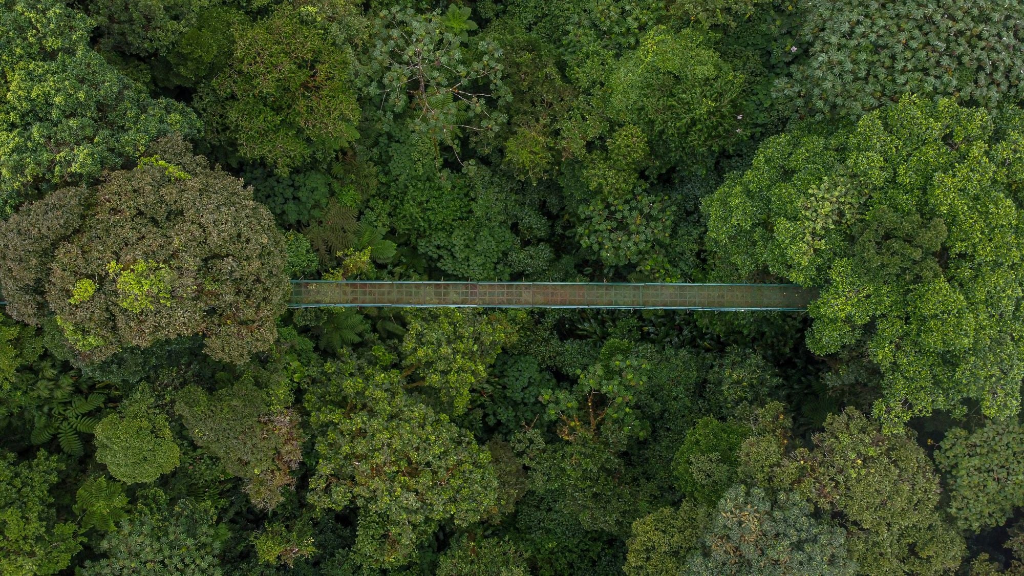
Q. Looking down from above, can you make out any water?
No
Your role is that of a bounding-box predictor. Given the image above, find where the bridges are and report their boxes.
[0,274,1004,317]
